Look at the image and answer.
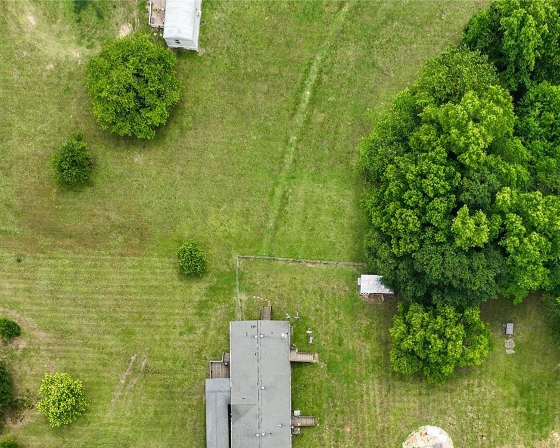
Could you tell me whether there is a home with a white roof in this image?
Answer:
Yes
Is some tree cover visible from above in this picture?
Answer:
Yes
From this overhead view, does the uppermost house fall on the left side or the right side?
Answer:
left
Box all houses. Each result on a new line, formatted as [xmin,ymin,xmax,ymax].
[206,306,316,448]
[148,0,201,50]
